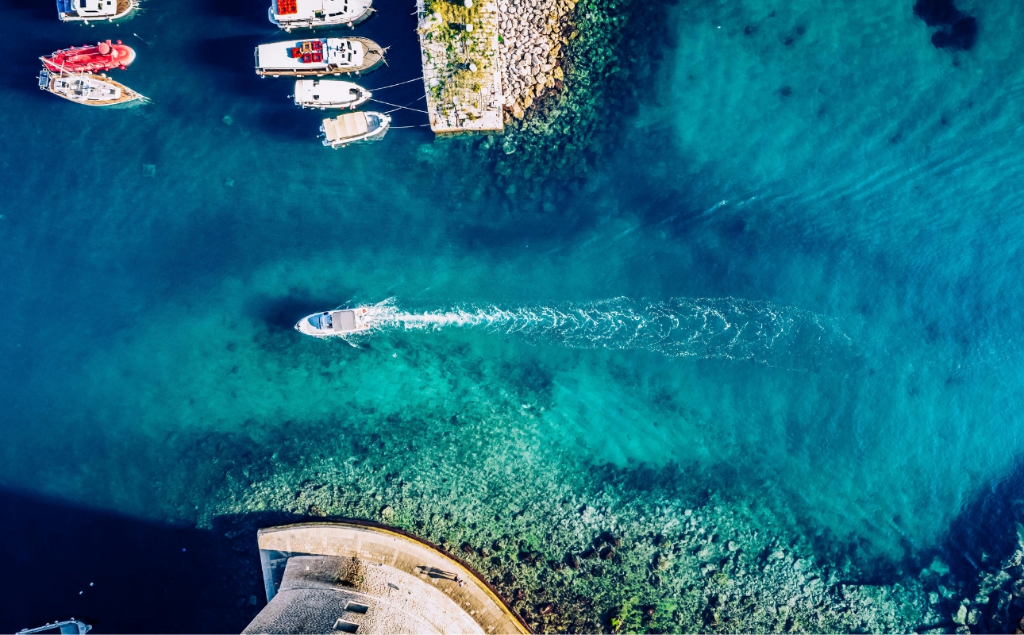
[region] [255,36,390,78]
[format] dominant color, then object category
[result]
white boat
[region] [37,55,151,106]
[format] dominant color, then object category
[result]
white boat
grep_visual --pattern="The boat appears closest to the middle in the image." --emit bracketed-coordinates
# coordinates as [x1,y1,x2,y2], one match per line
[294,308,373,338]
